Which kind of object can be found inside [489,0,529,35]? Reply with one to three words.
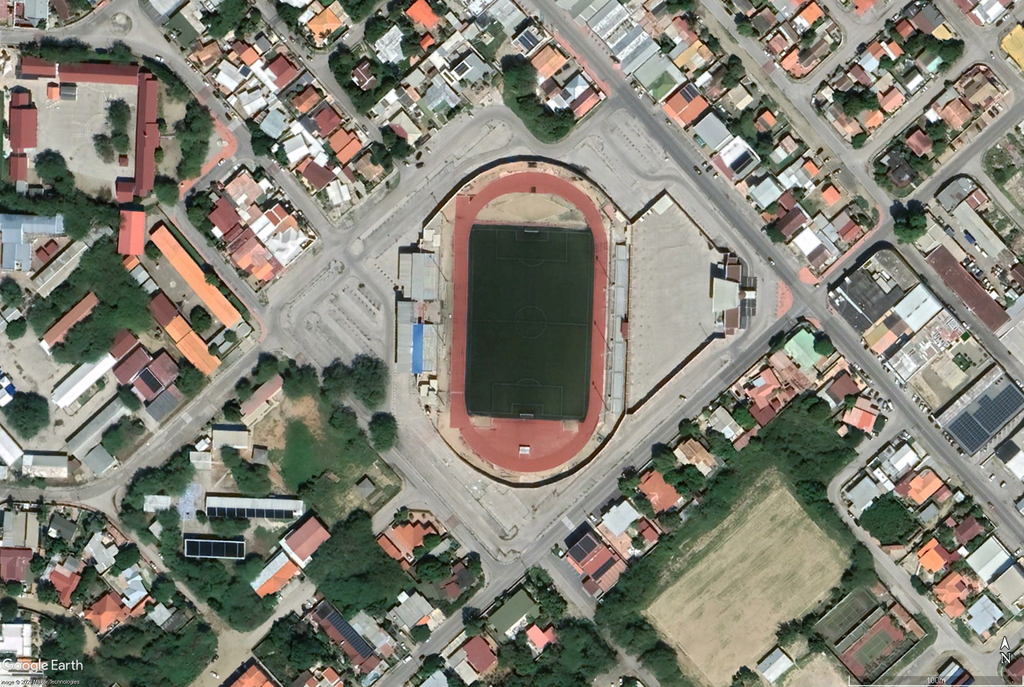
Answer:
building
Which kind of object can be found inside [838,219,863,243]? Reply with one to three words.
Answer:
house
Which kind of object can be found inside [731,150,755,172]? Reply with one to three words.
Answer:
solar panel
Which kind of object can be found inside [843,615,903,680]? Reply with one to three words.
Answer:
tennis court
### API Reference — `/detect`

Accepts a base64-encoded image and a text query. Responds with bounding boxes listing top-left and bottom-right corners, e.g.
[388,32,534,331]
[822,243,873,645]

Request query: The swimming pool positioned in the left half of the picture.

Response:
[362,662,389,687]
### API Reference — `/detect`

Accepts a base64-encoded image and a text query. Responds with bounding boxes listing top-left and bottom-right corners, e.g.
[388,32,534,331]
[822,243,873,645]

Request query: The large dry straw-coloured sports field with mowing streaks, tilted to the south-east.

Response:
[644,483,852,687]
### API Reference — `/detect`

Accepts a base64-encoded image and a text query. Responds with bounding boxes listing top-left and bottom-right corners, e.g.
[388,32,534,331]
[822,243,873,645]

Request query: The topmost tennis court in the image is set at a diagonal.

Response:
[817,589,879,644]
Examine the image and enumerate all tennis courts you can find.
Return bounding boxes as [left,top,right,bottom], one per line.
[817,589,879,644]
[843,615,903,680]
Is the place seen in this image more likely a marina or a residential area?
residential area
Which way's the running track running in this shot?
vertically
